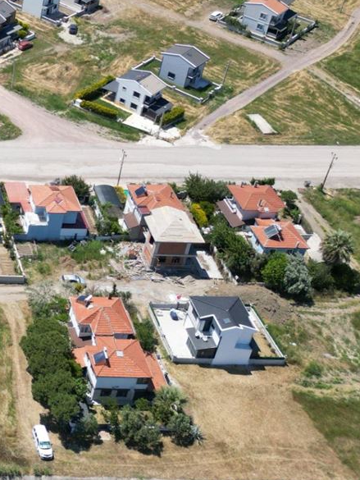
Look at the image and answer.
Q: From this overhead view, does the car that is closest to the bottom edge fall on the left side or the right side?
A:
left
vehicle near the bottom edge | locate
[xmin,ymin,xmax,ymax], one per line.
[29,422,58,463]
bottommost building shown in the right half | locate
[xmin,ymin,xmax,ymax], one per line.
[182,288,265,365]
